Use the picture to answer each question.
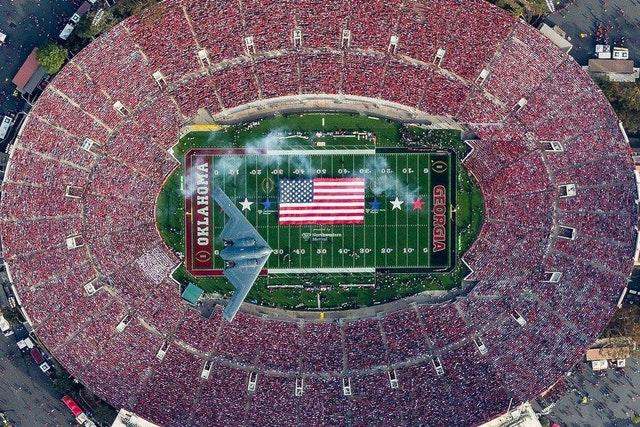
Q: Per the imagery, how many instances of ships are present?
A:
none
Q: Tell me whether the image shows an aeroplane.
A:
Yes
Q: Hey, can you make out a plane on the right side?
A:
No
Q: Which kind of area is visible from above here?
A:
sports ground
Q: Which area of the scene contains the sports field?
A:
center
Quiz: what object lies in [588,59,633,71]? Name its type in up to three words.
building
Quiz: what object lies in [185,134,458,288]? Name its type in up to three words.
sports field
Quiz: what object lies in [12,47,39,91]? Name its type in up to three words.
building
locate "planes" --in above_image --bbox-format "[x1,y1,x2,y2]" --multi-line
[214,186,272,323]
